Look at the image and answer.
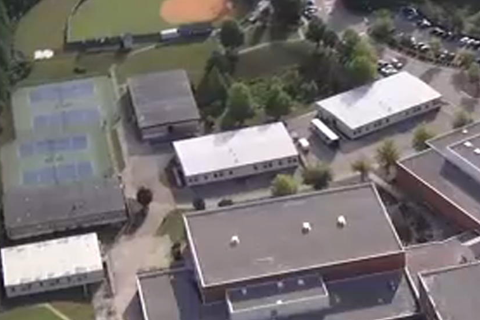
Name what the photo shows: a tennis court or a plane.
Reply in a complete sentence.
This aerial view contains a tennis court.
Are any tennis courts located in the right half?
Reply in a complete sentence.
No, no tennis court is visible in the right half.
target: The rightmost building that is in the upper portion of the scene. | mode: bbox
[316,71,441,139]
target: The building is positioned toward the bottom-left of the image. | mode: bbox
[1,232,104,296]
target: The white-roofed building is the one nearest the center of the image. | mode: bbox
[175,123,298,187]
